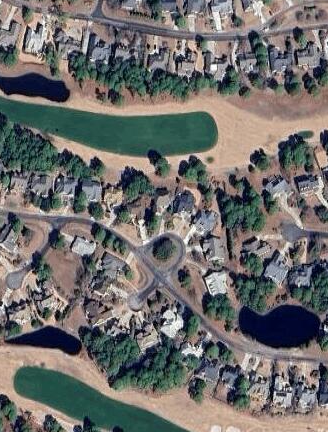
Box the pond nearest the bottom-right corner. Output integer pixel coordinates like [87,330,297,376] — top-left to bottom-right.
[239,304,320,348]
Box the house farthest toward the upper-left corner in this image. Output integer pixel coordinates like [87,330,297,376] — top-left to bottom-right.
[0,18,21,48]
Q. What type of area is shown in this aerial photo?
residential area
